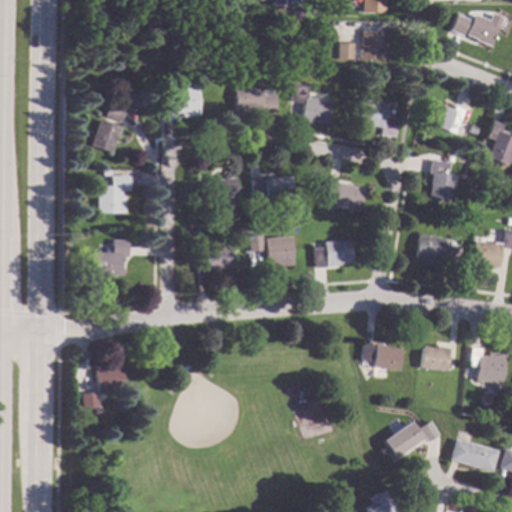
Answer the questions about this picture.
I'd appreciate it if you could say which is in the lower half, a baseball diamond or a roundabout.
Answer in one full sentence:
What appears in the lower half is a baseball diamond.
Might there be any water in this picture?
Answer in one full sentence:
No, there is no water in the image.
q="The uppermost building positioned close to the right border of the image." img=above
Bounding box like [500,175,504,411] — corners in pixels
[452,12,506,44]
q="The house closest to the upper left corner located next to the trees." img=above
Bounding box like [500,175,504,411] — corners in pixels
[93,108,128,154]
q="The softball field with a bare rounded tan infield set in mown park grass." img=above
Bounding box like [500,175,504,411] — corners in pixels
[134,362,285,508]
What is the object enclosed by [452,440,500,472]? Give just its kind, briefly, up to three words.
house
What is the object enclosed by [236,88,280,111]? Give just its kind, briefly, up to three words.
house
